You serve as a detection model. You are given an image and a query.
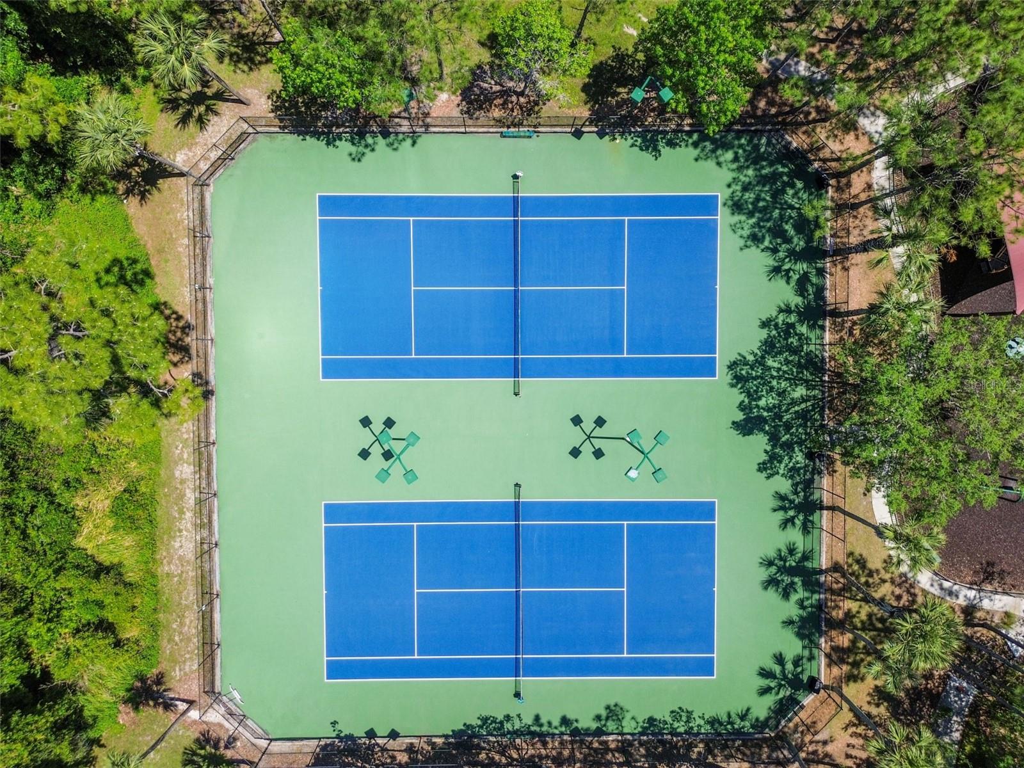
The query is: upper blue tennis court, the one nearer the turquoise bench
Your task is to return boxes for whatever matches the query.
[317,193,720,380]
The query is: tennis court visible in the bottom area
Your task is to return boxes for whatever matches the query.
[322,500,717,682]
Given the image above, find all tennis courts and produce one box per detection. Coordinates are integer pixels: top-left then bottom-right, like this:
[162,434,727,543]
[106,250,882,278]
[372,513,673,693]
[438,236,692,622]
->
[322,500,717,682]
[317,193,720,380]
